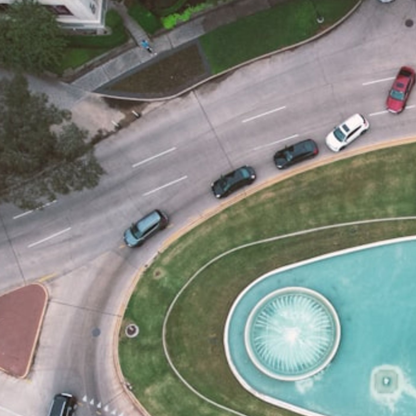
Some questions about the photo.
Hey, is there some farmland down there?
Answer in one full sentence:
No, the scene doesn't show any farmland.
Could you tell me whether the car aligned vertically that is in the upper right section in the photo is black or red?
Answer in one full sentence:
The car aligned vertically that is in the upper right section looks red in the image.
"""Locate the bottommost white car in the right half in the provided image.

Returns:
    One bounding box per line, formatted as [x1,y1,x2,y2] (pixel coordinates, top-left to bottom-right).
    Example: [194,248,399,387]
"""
[325,113,369,153]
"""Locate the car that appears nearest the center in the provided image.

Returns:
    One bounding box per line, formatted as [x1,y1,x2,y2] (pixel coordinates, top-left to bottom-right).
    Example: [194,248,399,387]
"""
[211,164,256,199]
